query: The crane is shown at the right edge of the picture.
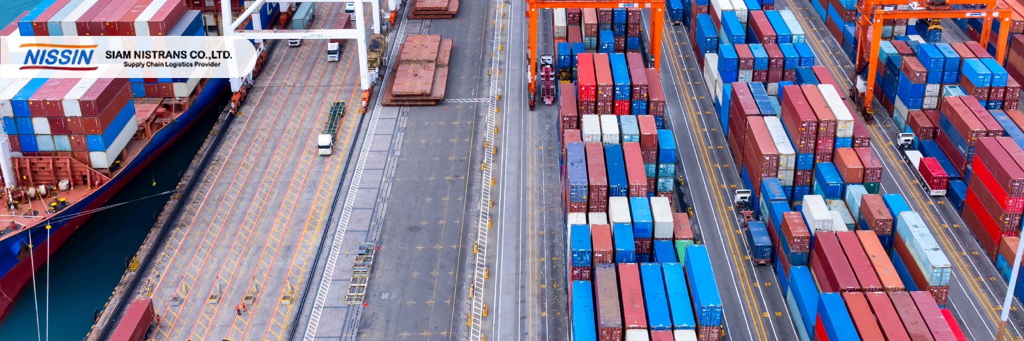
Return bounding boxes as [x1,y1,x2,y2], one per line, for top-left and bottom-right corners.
[844,0,1013,120]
